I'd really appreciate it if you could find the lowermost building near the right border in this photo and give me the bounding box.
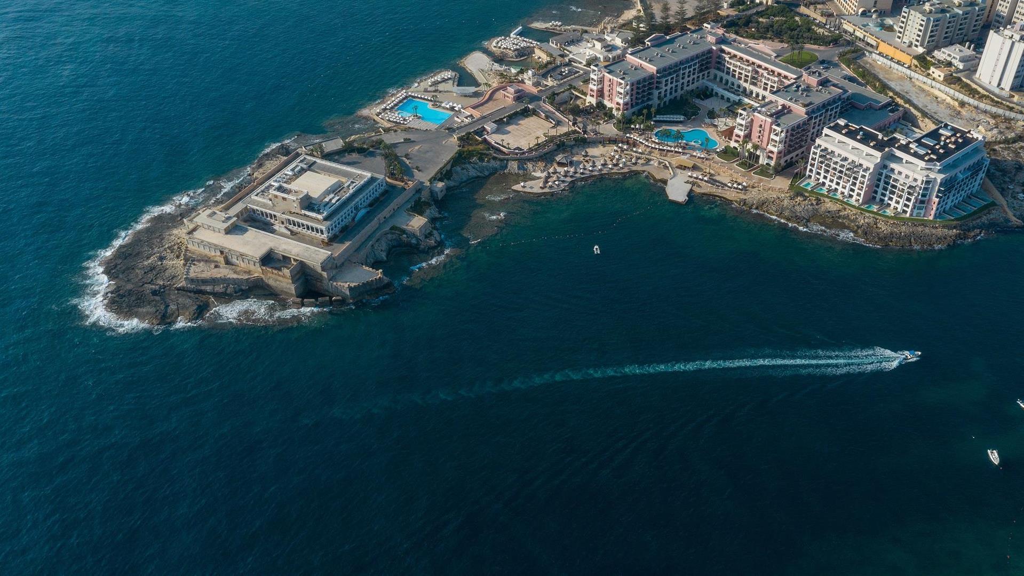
[808,118,992,219]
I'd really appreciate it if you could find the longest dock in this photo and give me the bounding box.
[530,23,594,35]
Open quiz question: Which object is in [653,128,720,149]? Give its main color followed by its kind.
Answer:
blue swimming pool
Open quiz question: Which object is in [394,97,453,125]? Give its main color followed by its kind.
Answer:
blue swimming pool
